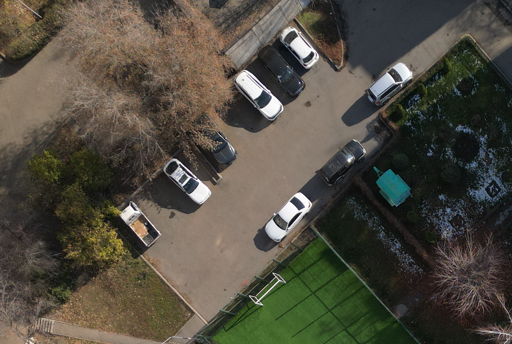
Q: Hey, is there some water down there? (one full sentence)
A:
No, there's no water in this view.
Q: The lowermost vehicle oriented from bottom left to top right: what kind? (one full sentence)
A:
The lowermost vehicle oriented from bottom left to top right appears to be a car.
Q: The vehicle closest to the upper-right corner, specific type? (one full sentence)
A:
The vehicle closest to the upper-right corner can be classified as a car.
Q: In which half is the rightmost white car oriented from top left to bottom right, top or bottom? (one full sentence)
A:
It is in the top half that the rightmost white car oriented from top left to bottom right appears.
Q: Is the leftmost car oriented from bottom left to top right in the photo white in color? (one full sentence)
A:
Yes, the leftmost car oriented from bottom left to top right is indeed white.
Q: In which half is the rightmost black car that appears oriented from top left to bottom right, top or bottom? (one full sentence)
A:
The rightmost black car that appears oriented from top left to bottom right is in the top half of the image.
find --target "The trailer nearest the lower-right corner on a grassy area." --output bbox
[376,168,411,207]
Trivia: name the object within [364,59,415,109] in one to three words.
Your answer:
car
